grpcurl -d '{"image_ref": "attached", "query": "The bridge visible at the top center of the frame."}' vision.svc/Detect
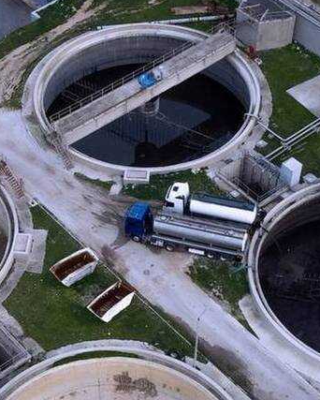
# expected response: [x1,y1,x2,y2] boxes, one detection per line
[37,23,243,149]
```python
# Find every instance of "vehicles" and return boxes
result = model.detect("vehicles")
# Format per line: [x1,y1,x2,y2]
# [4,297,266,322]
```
[160,186,257,236]
[121,203,245,261]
